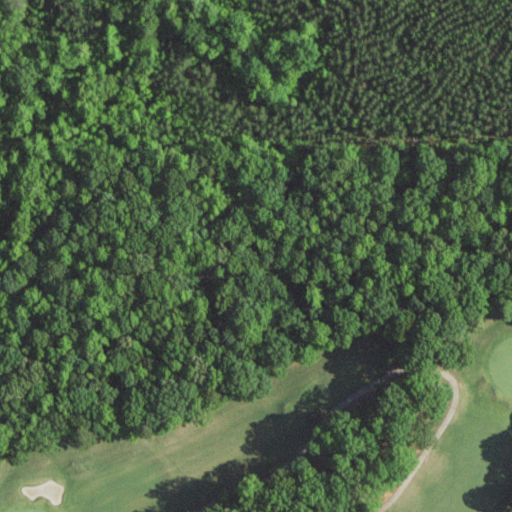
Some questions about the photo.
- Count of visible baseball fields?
0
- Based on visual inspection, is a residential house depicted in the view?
No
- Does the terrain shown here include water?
No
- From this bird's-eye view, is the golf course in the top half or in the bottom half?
bottom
